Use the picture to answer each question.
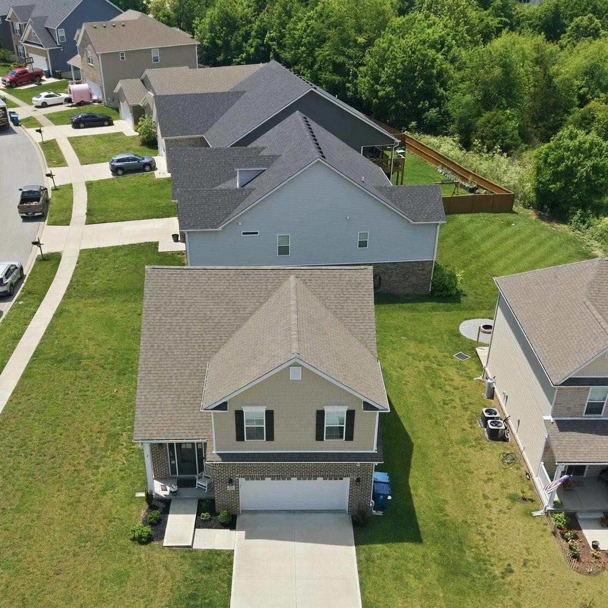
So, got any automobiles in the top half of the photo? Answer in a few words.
Yes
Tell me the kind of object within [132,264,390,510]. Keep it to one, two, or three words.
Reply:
house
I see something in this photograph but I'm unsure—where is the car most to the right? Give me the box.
[106,151,154,174]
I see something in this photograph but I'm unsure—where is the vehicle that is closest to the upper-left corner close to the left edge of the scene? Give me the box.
[0,68,45,87]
